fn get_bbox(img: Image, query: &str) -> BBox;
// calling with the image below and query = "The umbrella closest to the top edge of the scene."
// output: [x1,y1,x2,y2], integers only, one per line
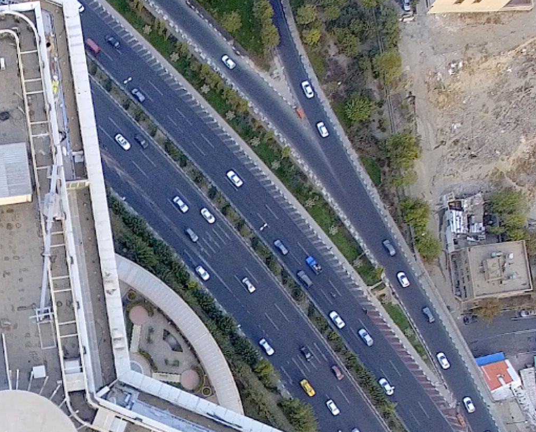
[130,305,149,323]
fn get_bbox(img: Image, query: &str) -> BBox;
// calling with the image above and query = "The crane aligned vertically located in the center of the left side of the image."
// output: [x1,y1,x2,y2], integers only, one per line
[35,153,59,323]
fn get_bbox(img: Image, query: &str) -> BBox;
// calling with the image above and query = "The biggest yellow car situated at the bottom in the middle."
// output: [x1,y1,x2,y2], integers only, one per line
[299,378,316,397]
